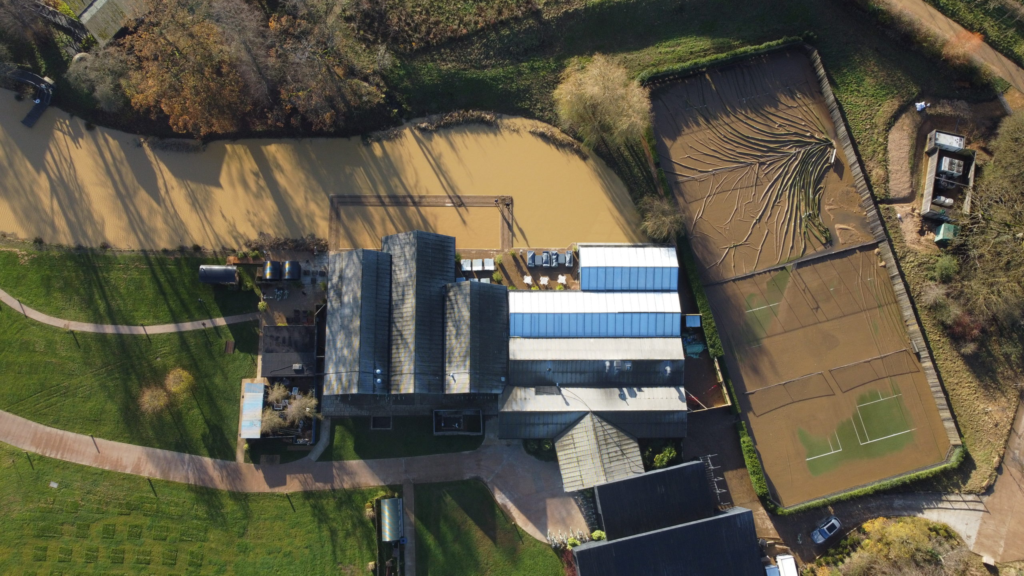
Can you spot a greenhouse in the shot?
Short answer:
Yes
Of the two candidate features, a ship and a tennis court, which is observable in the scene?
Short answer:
tennis court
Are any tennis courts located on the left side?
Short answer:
No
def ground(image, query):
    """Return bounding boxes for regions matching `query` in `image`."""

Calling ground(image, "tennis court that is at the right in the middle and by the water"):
[643,47,951,505]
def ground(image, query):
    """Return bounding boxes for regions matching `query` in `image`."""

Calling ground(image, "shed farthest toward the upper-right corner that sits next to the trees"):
[930,223,954,244]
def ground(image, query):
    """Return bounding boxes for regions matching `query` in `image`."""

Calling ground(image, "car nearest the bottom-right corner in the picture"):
[810,516,842,544]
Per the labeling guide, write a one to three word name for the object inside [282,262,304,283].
shed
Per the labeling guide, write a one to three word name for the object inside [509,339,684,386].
building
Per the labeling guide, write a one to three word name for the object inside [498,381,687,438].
building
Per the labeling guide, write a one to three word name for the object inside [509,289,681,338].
greenhouse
